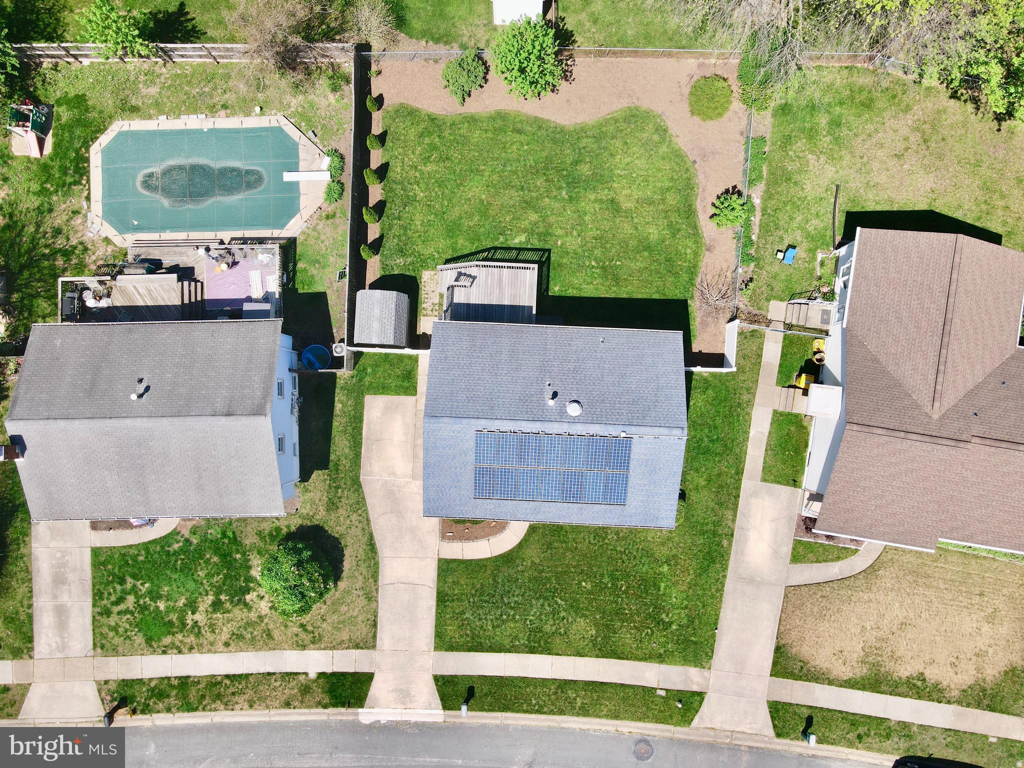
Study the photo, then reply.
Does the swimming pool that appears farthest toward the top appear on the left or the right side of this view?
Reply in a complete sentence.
It is on the left.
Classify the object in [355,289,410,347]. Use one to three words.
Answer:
shed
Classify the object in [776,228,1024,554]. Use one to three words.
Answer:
house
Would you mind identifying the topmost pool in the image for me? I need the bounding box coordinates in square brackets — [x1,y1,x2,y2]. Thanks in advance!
[91,116,328,247]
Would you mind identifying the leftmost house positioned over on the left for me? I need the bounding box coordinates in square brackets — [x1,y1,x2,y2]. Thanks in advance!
[0,318,302,523]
